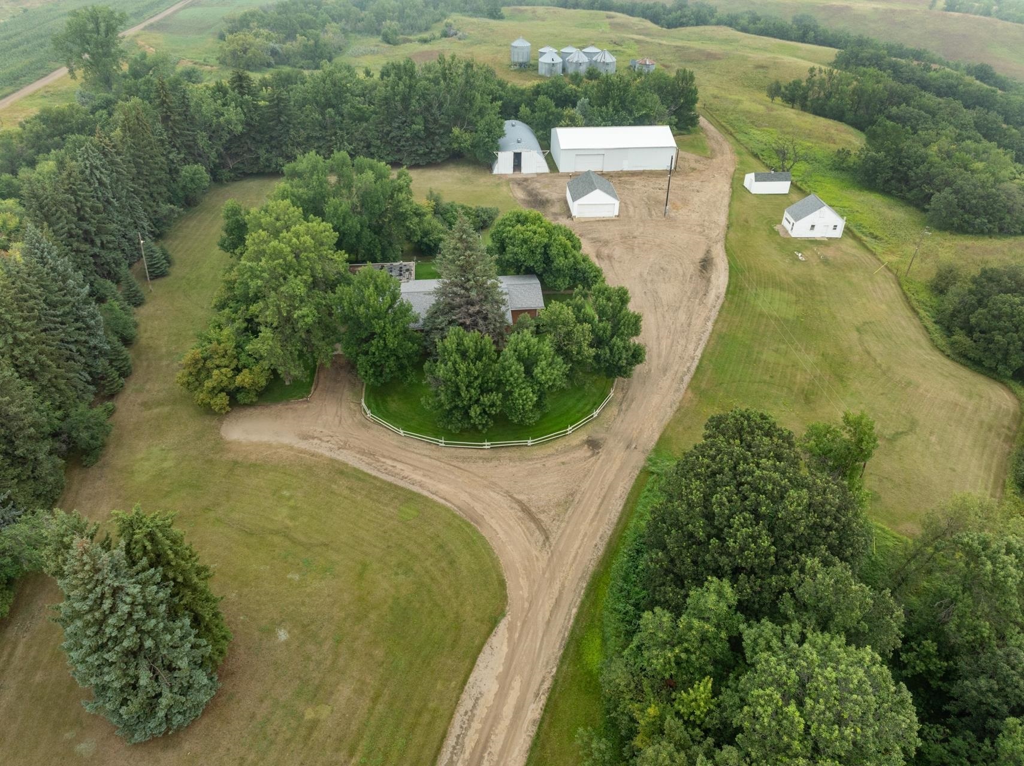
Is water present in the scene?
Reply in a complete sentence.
No, no water is visible.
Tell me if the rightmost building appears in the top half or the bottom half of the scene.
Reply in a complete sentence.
The top half of the photo is where the rightmost building is.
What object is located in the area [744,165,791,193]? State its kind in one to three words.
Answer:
shed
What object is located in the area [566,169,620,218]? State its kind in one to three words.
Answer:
building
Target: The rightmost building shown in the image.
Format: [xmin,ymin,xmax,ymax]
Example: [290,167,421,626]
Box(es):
[779,192,845,237]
